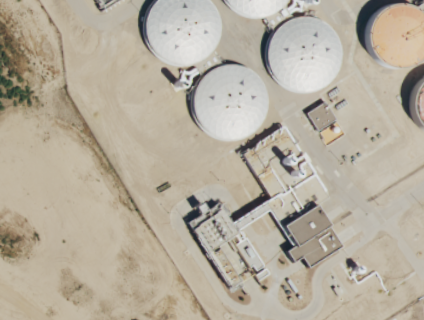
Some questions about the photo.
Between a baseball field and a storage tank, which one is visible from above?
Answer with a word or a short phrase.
storage tank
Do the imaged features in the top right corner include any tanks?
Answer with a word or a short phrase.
Yes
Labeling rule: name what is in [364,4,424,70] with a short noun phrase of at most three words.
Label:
storage tank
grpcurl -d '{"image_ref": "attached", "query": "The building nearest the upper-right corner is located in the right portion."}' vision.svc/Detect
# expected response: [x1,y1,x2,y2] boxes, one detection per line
[306,103,335,132]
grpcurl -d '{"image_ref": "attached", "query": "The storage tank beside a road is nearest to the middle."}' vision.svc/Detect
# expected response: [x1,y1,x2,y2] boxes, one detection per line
[191,64,268,142]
